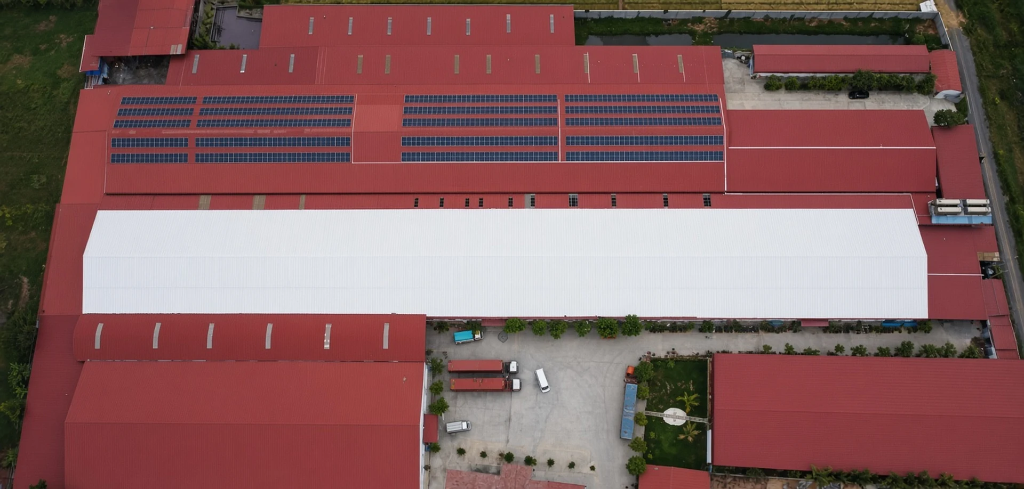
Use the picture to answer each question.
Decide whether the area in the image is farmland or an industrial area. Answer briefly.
industrial area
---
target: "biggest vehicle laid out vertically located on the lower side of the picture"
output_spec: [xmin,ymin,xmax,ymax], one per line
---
[619,365,636,439]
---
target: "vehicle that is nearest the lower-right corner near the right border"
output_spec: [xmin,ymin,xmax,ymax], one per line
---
[986,261,1003,274]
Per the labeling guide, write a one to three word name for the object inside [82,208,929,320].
building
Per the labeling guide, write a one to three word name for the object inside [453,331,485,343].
vehicle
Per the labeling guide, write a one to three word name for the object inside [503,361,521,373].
vehicle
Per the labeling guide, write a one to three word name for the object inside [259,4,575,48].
building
